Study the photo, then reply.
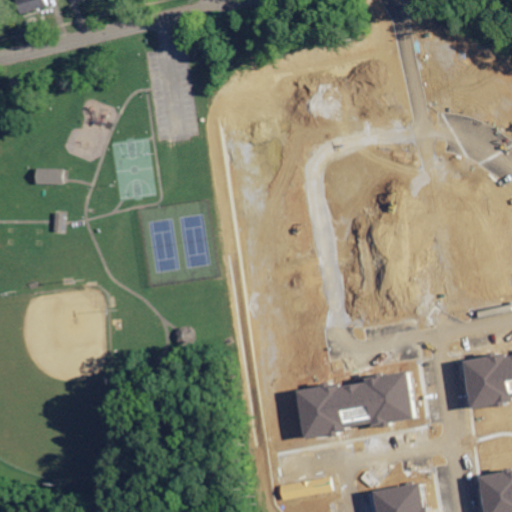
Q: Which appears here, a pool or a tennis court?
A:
tennis court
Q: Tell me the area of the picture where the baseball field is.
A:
bottom left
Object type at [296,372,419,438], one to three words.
house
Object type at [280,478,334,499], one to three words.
building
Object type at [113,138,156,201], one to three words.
basketball court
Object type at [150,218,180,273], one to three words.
tennis court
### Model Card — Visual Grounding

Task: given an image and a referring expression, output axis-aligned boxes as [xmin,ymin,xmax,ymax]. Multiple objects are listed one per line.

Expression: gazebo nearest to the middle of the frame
[181,327,200,344]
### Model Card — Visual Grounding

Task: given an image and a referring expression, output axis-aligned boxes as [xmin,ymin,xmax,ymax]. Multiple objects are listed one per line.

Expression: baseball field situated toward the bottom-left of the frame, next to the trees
[0,288,110,482]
